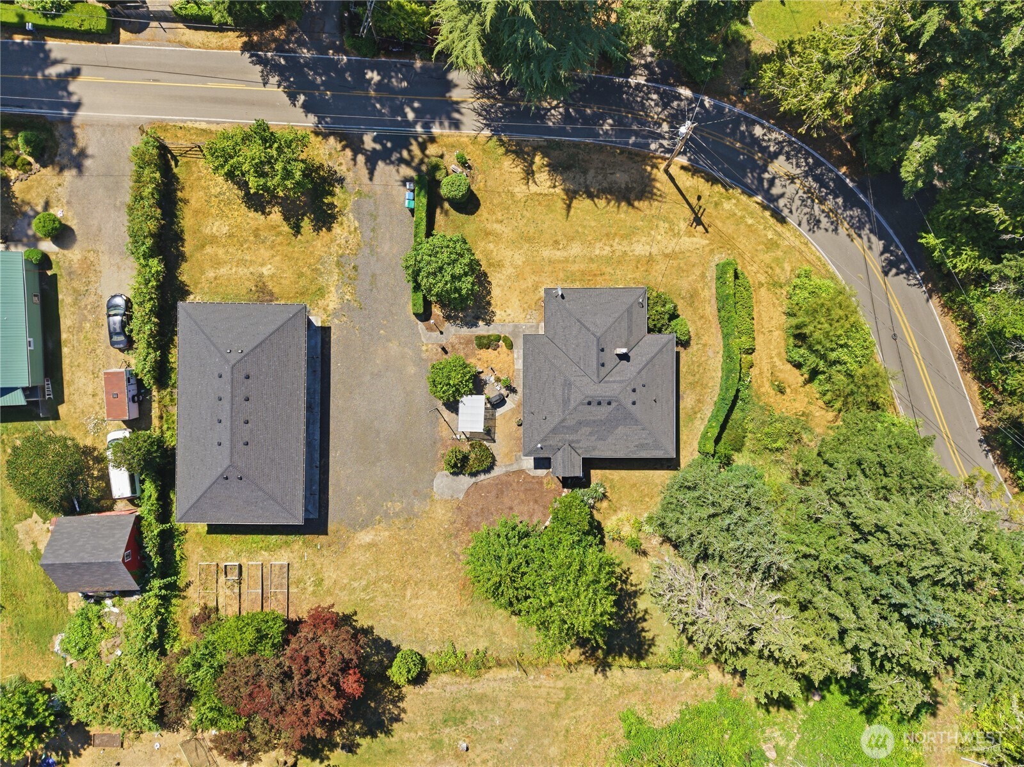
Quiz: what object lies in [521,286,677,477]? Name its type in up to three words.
house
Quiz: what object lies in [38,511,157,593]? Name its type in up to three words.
building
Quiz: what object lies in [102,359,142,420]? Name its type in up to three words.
trailer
